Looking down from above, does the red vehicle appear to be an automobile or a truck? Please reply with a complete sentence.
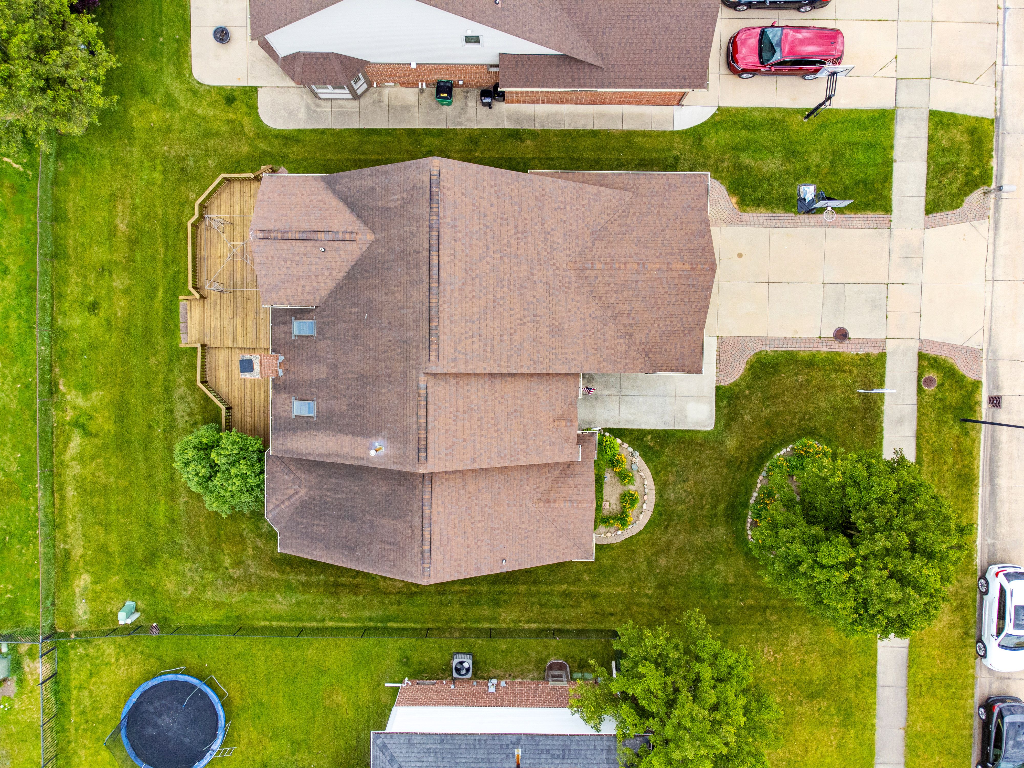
It turns out the red vehicle is an automobile.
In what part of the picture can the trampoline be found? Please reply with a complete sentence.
The trampoline appears toward the bottom left of the photo.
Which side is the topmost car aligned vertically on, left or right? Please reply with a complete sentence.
You can find the topmost car aligned vertically on the right side of the picture.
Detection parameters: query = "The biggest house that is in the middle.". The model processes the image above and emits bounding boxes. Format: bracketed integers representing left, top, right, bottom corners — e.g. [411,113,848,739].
[238,157,717,584]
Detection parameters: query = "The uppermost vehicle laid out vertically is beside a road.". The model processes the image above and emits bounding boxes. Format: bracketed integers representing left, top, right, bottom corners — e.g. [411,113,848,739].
[969,557,1024,668]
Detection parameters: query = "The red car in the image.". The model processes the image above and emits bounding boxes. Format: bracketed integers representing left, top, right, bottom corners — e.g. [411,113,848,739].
[727,11,851,74]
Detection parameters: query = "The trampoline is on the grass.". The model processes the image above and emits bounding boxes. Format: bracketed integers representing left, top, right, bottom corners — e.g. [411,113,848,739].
[103,667,236,768]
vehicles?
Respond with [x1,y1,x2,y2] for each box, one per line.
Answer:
[969,685,1024,768]
[724,0,838,12]
[727,11,851,74]
[969,557,1024,668]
